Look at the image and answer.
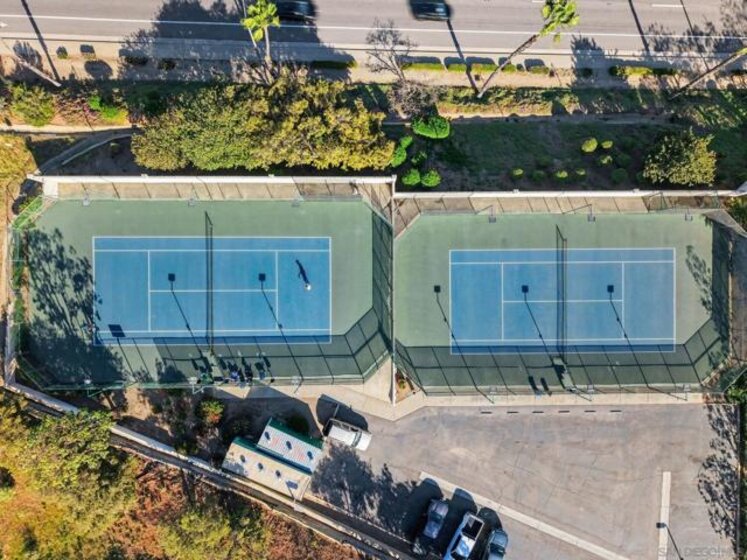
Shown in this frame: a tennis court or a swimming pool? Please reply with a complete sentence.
The one in the frame is a tennis court.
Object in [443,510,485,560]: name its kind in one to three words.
truck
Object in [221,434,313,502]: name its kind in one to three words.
shed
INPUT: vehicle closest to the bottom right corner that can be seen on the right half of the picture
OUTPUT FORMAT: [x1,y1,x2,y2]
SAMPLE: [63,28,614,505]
[478,524,506,560]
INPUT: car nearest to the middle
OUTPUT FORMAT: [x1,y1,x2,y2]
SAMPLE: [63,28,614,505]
[322,413,372,446]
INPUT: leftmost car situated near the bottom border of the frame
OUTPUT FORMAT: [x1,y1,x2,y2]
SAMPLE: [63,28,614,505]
[422,494,446,540]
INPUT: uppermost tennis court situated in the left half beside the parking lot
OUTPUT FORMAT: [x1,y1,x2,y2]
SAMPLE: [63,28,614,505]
[28,201,390,376]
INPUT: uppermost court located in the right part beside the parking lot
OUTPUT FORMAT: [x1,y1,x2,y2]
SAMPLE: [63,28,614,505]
[397,214,729,387]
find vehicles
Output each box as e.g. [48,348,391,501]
[422,494,446,540]
[408,0,451,20]
[267,0,314,21]
[478,524,506,560]
[322,413,372,446]
[443,510,485,560]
